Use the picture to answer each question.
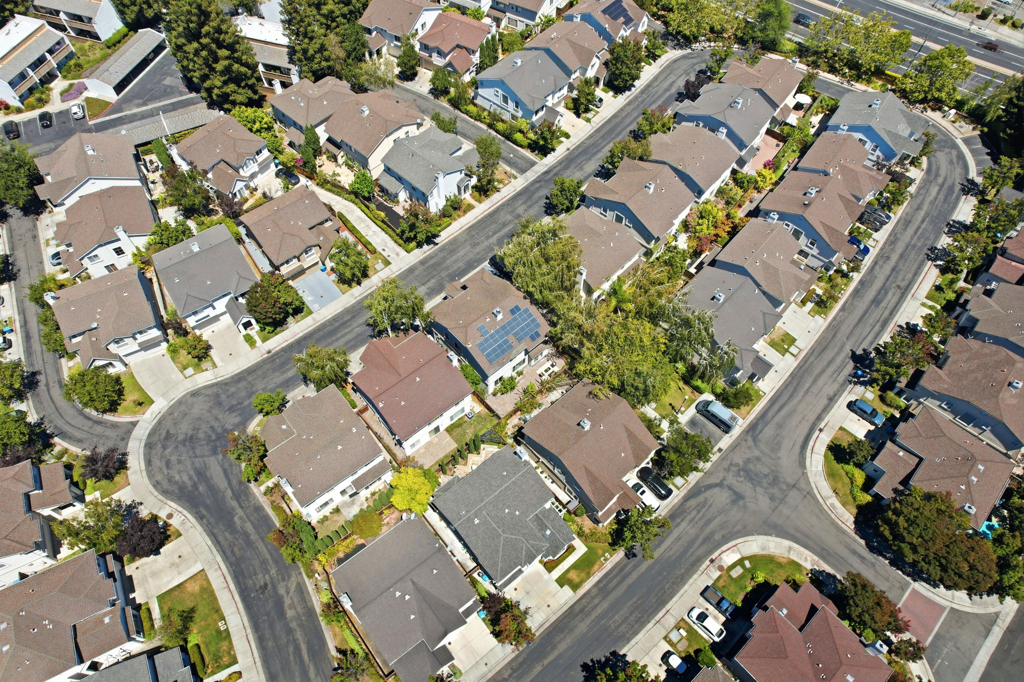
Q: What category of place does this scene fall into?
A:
residential area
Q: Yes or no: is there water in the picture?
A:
No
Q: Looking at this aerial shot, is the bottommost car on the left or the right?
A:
right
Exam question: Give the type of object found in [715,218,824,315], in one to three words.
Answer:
house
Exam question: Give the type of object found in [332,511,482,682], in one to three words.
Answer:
house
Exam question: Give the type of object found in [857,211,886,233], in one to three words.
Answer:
car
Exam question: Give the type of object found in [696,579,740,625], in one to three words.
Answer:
truck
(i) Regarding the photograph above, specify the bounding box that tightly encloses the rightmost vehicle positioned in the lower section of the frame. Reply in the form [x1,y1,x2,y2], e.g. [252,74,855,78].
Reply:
[847,398,884,426]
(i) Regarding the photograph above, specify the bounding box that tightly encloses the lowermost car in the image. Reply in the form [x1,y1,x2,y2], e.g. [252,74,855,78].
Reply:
[656,645,690,681]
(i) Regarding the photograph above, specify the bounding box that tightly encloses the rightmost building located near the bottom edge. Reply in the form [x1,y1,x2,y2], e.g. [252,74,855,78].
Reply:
[723,582,894,682]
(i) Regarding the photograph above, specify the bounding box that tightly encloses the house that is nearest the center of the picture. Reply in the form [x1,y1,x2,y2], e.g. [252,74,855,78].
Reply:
[430,269,551,391]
